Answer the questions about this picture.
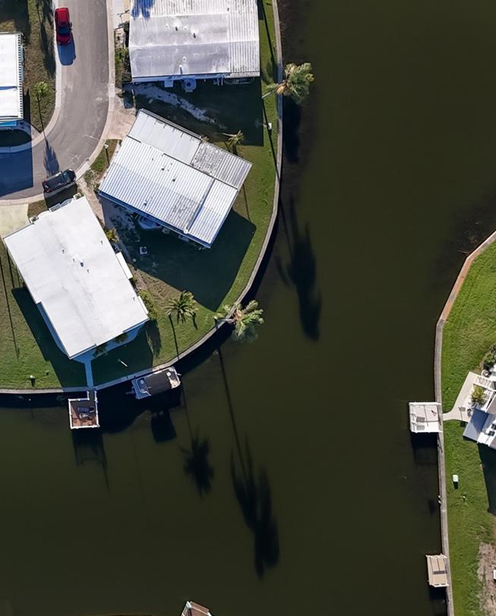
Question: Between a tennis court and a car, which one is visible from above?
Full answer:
Of the two, only a car appears.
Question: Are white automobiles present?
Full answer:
No, the frame has no white automobile in it.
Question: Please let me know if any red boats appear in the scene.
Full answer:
No, I find no red boat anywhere in the image.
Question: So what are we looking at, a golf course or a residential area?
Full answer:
This image shows a residential area.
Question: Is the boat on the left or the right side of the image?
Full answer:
The boat sits on the left side.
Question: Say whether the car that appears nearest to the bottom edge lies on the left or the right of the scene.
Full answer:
The car that appears nearest to the bottom edge appears in the left half of the scene.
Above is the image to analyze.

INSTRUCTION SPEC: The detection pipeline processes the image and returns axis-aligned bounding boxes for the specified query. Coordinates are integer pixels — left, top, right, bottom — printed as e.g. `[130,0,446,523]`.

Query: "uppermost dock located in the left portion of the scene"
[67,390,102,431]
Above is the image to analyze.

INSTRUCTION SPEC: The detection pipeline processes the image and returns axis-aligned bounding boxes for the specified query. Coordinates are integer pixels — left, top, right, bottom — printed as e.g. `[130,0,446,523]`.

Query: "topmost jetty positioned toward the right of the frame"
[408,403,444,435]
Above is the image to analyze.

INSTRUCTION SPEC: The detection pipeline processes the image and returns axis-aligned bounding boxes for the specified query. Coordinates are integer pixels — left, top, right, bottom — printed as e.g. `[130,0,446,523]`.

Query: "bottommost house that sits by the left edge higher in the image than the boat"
[4,193,148,359]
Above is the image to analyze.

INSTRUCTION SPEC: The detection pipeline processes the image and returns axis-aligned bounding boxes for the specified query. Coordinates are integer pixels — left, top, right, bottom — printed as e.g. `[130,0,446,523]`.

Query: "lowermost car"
[39,169,77,194]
